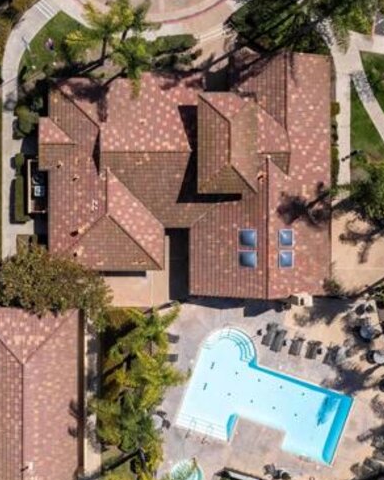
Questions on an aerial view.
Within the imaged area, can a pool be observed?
Yes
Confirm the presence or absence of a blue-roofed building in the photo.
No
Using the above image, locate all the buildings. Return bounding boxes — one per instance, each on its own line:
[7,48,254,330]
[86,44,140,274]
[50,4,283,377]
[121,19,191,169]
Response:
[0,306,82,480]
[39,45,331,307]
